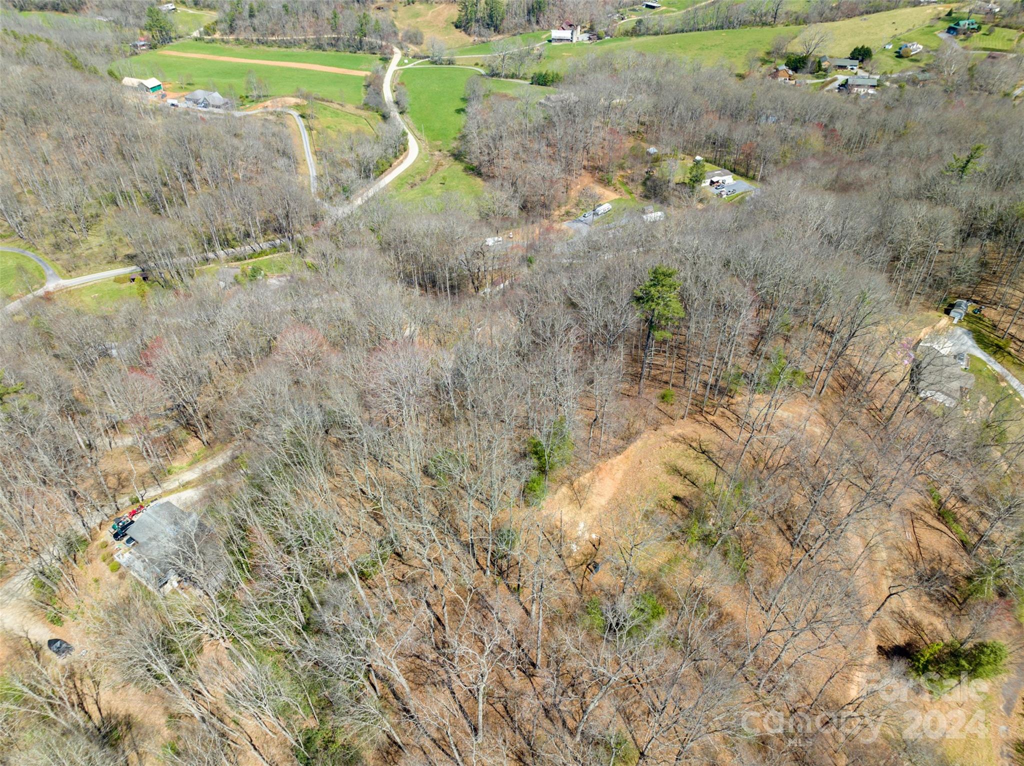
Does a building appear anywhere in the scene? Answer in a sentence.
Yes, a building is visible in the scene.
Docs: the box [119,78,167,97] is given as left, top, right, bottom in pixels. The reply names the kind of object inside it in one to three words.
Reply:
barn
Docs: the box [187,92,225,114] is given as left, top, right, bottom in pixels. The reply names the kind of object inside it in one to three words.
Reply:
house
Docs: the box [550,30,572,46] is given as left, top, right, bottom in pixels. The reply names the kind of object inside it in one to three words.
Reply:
barn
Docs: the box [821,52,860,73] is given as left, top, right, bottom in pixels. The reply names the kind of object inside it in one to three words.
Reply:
house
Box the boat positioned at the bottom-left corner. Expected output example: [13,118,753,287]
[46,637,74,656]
